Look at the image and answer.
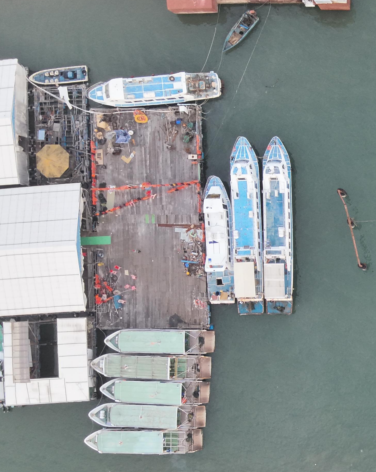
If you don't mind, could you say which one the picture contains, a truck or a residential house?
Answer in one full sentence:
Visible in the photo is a residential house.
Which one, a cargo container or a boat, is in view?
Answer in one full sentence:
Looking from above, you can make out a boat.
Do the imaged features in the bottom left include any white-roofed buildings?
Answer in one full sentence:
Yes, looking in the bottom left, one can make out a white-roofed building.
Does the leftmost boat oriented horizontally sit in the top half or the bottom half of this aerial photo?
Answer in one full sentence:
Seen from above, the leftmost boat oriented horizontally lies in the top half of the view.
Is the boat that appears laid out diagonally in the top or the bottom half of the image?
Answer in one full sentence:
The boat that appears laid out diagonally sits in the top half of the picture.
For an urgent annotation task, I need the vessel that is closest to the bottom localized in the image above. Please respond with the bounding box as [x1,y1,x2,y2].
[82,428,203,453]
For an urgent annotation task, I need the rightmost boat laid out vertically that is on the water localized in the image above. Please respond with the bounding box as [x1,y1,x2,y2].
[262,136,296,314]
